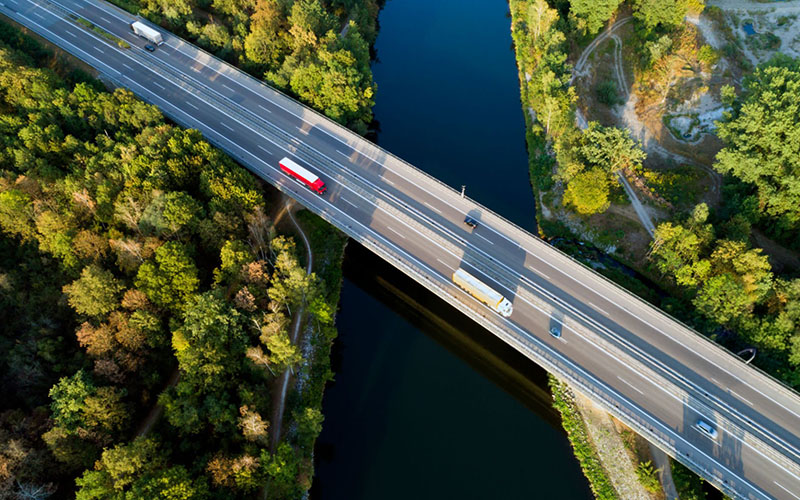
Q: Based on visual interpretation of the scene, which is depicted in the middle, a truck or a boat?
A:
truck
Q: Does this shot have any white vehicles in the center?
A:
Yes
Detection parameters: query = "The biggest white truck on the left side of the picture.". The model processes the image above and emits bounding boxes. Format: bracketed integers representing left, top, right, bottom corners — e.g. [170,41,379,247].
[279,157,325,195]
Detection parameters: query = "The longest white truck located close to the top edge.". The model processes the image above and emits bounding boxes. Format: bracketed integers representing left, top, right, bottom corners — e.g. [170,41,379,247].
[128,22,163,45]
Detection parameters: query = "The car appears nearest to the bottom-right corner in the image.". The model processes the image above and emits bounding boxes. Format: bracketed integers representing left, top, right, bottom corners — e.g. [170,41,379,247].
[695,420,719,438]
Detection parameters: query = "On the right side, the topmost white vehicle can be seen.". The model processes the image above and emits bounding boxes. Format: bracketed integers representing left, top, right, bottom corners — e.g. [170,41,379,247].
[454,268,512,316]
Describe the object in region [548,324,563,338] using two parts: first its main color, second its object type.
blue car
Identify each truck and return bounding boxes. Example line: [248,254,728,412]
[279,157,325,195]
[454,268,512,316]
[128,22,163,45]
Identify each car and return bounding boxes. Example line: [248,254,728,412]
[695,420,719,438]
[145,45,155,52]
[463,217,478,227]
[548,324,563,338]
